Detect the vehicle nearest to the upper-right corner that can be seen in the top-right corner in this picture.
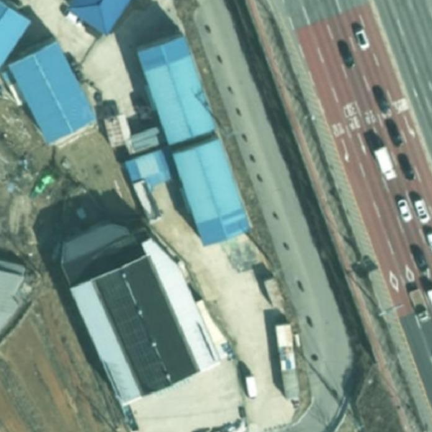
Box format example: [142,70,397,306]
[354,23,371,52]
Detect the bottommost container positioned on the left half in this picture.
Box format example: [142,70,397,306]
[136,183,163,223]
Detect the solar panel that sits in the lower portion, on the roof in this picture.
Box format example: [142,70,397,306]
[95,270,168,393]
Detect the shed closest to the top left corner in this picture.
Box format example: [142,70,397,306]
[0,0,32,66]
